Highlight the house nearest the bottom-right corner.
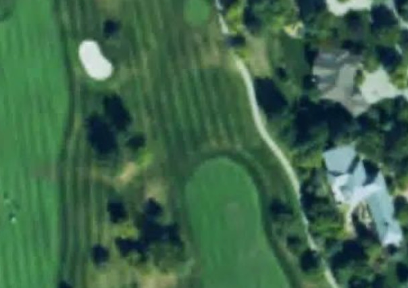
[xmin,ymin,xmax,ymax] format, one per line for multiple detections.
[325,145,407,245]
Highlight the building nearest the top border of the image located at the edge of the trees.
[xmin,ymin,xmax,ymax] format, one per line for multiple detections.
[311,44,373,120]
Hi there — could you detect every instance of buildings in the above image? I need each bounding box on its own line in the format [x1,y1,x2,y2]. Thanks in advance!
[325,145,407,245]
[311,44,373,120]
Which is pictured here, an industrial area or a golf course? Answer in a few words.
golf course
